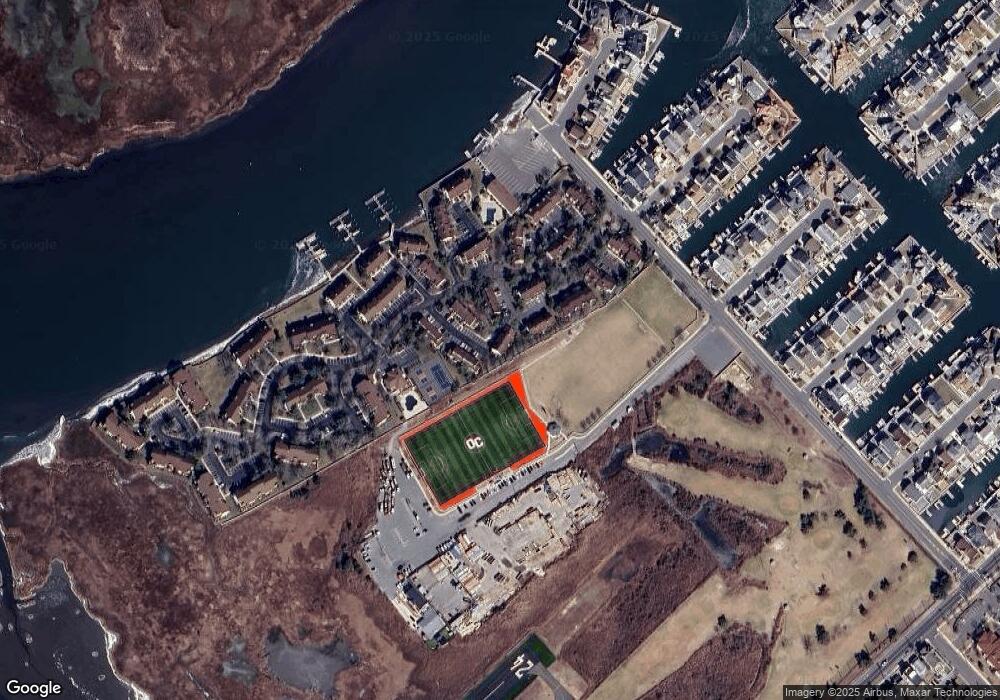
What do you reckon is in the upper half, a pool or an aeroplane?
pool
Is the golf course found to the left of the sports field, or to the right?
right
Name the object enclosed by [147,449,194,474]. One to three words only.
building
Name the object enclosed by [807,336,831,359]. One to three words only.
house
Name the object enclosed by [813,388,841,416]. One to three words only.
house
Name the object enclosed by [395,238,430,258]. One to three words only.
building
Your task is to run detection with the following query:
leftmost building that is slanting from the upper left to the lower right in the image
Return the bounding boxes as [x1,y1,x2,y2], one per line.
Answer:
[104,410,147,452]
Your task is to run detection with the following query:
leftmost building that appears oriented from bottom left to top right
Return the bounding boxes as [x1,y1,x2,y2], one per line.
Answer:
[131,381,177,419]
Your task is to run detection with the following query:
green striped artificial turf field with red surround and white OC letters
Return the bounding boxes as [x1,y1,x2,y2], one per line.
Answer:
[400,372,549,513]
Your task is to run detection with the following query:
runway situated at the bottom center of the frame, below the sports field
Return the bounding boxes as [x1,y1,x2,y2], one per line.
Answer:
[458,630,557,700]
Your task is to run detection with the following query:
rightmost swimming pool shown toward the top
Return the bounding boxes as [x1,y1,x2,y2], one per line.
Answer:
[480,197,507,228]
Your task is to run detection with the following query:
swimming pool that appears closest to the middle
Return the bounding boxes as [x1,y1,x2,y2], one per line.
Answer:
[395,388,430,420]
